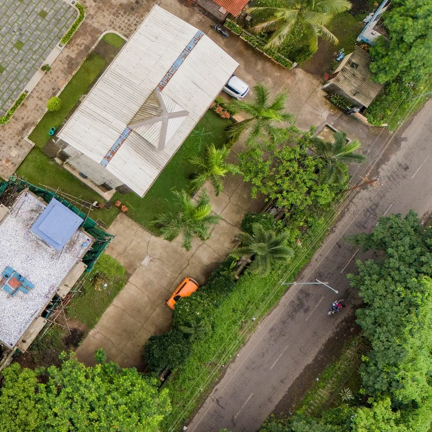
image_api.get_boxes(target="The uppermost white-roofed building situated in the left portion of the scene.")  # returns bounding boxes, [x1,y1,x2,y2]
[54,3,239,201]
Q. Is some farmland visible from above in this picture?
No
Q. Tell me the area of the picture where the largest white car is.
top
